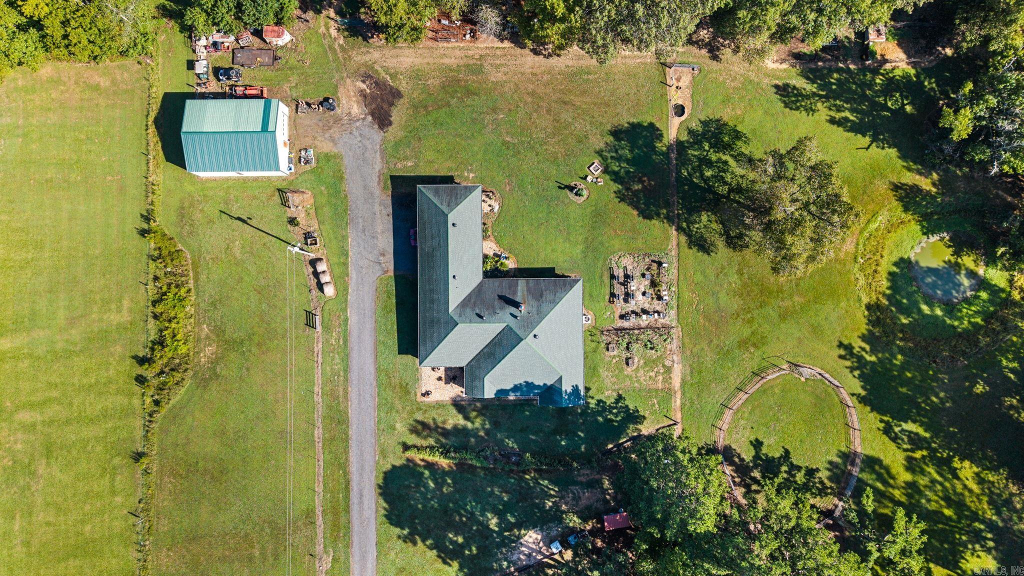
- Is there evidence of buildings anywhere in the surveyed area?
Yes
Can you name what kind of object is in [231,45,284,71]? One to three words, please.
trailer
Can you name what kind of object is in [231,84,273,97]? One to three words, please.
vehicle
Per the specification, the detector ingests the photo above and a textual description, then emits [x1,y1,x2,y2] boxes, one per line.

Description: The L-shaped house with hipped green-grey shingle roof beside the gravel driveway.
[417,184,585,405]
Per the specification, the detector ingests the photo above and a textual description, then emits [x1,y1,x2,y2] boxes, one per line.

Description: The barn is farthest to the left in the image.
[179,97,290,176]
